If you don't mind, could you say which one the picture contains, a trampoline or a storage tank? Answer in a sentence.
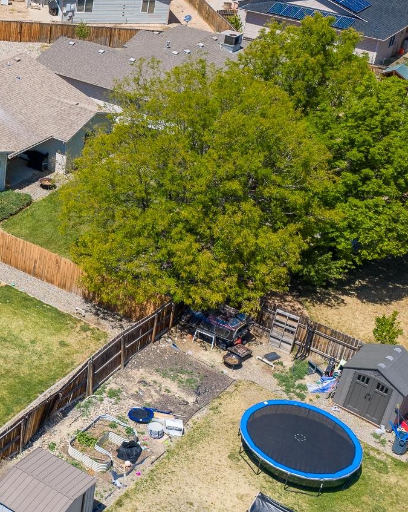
It is a trampoline that can be seen here.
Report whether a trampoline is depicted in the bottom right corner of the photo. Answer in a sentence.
Yes, a trampoline can be seen in the bottom right corner of the photo.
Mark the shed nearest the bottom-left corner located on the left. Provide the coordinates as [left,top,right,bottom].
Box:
[0,446,94,512]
